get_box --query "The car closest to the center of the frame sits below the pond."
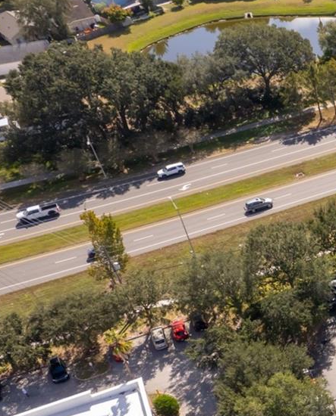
[159,163,186,177]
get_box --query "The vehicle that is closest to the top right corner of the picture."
[245,197,273,212]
